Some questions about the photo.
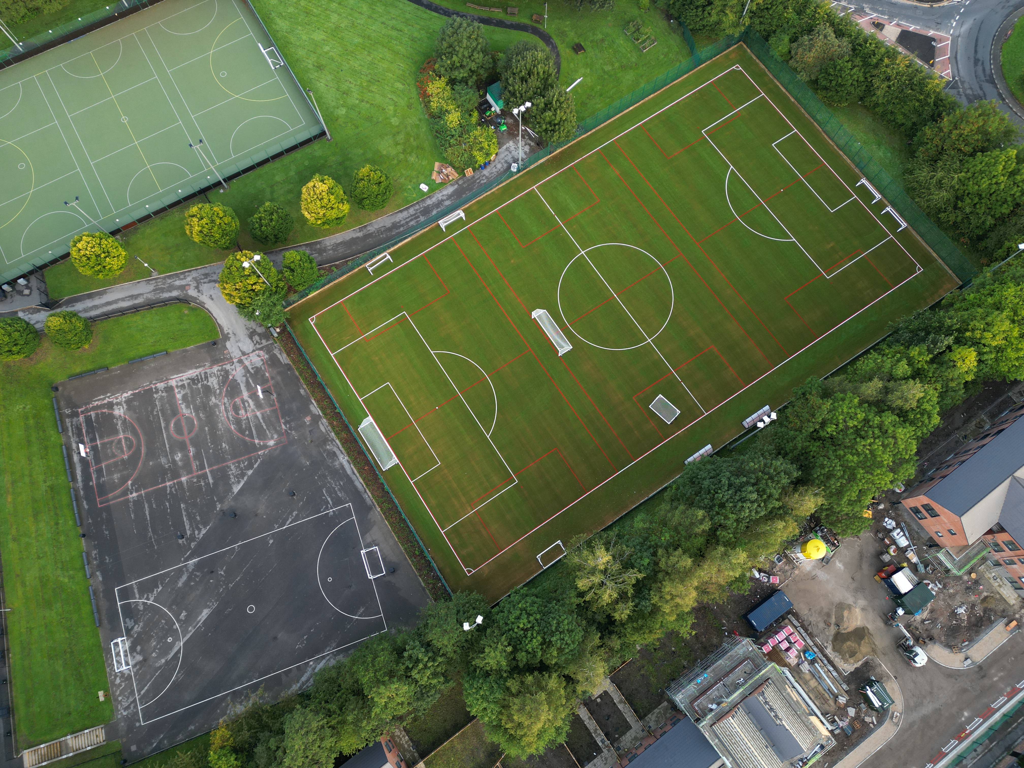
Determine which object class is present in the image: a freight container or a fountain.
freight container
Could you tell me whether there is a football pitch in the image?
Yes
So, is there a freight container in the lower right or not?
Yes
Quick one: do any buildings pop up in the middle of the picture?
No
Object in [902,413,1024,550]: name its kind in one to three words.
house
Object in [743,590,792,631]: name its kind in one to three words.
shipping container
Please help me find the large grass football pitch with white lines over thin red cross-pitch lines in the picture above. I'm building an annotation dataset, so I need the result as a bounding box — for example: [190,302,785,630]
[286,43,955,604]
